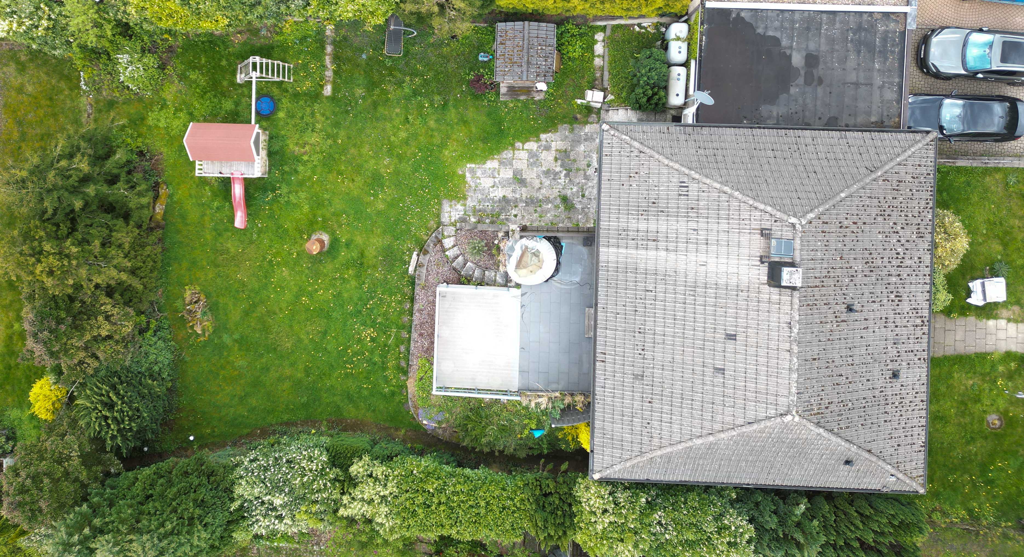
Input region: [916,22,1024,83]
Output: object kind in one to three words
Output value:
car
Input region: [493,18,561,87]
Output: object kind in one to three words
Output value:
shed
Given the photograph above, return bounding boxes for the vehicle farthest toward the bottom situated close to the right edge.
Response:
[909,91,1024,147]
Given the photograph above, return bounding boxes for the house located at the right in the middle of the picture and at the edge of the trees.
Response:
[590,122,937,493]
